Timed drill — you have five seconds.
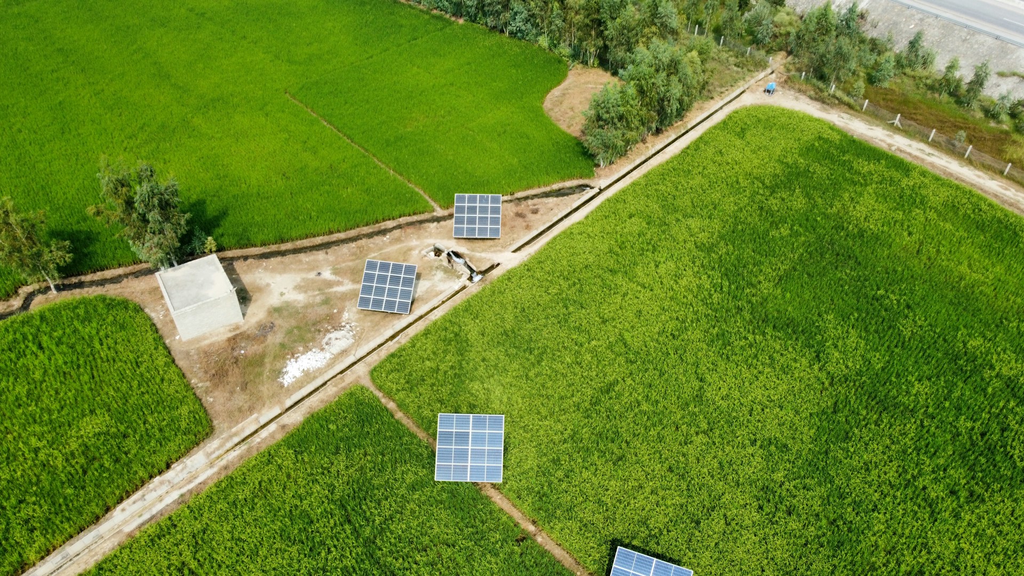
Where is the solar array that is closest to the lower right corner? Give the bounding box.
[610,546,693,576]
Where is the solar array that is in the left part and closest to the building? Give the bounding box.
[357,259,417,314]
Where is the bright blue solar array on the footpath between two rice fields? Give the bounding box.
[435,413,504,482]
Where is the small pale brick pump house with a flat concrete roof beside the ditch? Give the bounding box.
[155,255,243,342]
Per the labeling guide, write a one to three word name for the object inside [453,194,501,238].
solar array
